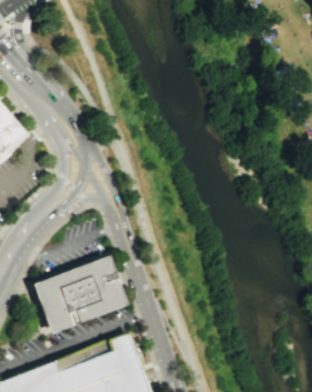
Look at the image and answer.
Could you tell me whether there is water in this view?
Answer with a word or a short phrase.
Yes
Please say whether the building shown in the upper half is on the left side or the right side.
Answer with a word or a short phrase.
left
